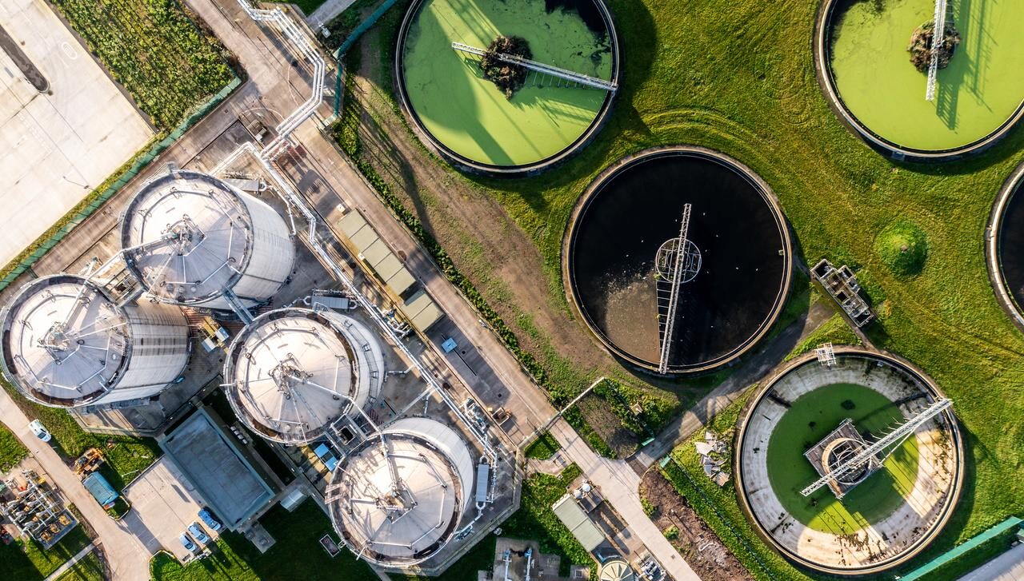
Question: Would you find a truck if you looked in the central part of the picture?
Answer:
No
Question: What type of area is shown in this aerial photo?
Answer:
industrial area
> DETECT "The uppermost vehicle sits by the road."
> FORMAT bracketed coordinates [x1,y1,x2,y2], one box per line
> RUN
[27,418,54,443]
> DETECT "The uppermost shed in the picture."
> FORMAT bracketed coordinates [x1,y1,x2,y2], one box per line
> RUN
[338,208,418,295]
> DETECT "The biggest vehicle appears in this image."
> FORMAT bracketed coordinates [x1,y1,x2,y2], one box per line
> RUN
[70,441,110,483]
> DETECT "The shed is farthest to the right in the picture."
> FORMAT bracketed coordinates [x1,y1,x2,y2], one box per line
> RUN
[551,490,606,552]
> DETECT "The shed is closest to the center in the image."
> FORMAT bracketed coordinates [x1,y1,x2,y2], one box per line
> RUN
[401,288,447,331]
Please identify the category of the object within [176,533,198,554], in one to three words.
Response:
car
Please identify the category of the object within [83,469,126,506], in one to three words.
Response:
shed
